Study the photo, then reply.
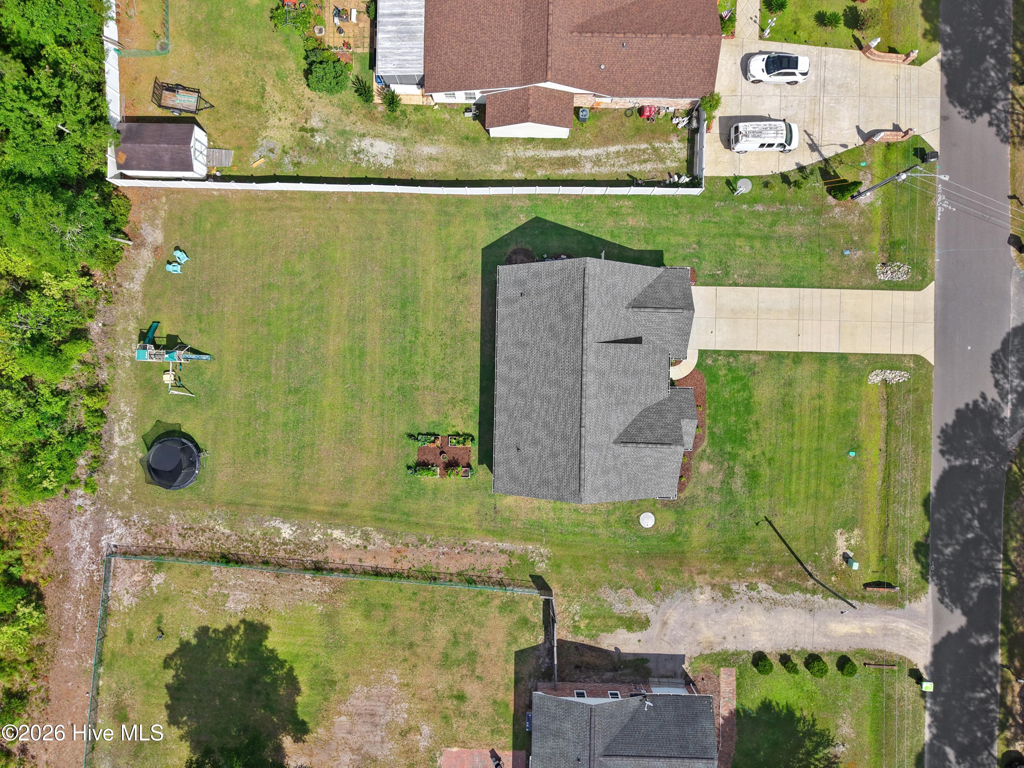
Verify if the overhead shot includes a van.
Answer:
Yes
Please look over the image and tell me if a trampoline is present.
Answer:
Yes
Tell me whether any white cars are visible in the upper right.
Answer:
Yes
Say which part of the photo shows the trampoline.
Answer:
left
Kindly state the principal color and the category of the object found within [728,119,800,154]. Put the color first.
white van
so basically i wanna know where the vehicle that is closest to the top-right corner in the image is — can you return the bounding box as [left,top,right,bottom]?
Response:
[748,51,812,85]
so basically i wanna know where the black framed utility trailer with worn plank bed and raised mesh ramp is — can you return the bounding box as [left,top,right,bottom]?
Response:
[144,73,215,113]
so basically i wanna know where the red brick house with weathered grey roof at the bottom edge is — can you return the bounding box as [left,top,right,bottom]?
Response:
[530,682,721,768]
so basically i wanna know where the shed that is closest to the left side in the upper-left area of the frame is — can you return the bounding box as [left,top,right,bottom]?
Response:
[107,124,207,177]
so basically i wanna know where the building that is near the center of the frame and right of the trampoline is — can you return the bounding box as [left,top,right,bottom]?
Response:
[491,250,698,503]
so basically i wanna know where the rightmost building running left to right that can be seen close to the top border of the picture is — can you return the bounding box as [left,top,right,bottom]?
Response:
[425,0,721,137]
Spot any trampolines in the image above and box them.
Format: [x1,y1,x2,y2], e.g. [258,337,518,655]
[138,436,204,490]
